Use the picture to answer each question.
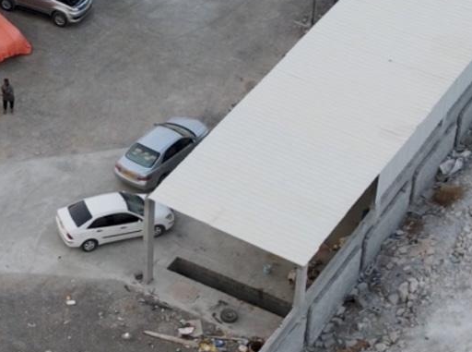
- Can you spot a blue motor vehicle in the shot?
No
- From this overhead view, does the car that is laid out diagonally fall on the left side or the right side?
left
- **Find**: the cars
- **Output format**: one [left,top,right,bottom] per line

[0,0,94,27]
[60,192,180,252]
[116,121,210,193]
